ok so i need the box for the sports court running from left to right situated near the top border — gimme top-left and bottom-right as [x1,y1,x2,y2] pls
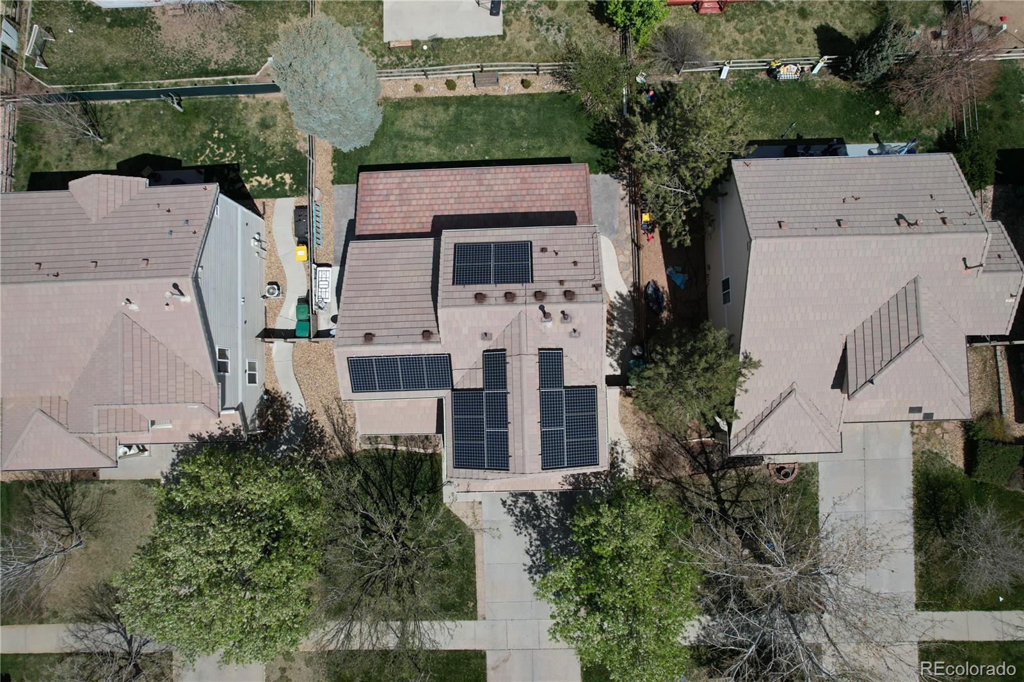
[384,0,503,41]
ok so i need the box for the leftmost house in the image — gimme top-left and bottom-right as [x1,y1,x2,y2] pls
[0,171,267,474]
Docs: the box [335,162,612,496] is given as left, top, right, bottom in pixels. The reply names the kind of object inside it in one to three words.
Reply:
house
